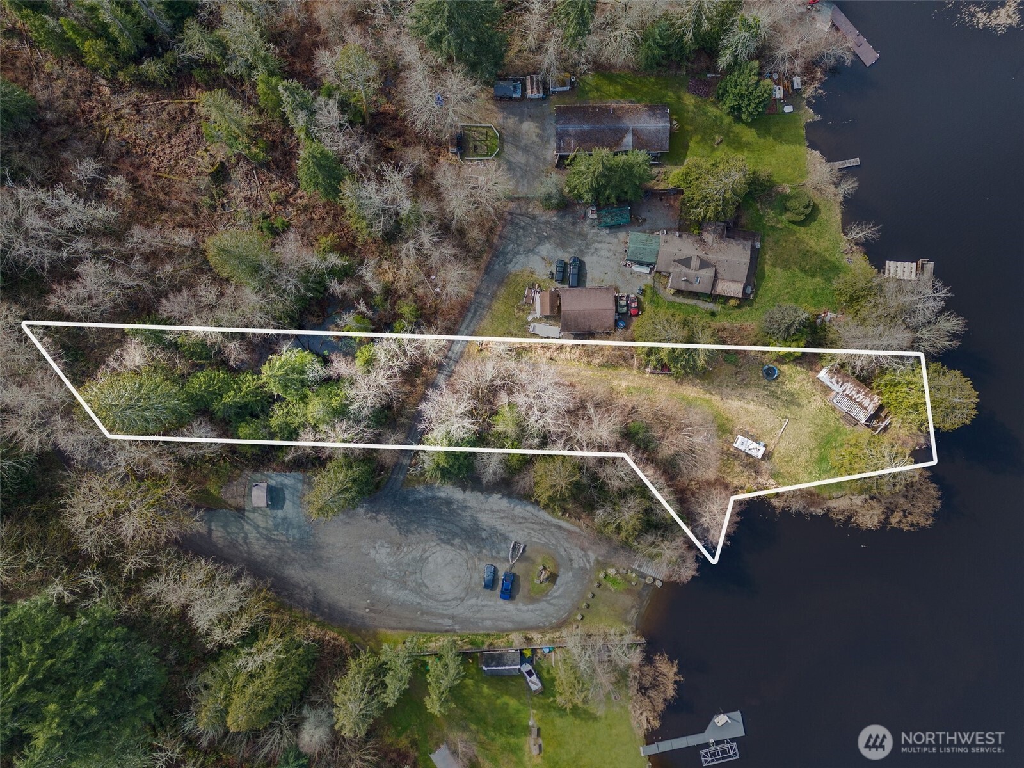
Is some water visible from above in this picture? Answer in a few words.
Yes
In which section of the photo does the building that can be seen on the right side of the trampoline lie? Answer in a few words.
right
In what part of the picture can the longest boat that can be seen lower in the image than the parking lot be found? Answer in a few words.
bottom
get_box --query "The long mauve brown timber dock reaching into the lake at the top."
[830,5,880,67]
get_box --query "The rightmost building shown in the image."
[817,362,891,432]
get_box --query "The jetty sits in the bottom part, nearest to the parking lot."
[640,708,745,756]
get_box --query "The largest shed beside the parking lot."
[479,647,520,676]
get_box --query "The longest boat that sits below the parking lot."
[524,665,545,695]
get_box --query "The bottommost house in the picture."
[429,739,467,768]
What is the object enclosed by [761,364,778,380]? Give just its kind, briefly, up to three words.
trampoline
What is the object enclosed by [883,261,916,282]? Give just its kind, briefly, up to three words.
pier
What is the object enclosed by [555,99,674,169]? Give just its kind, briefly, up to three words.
house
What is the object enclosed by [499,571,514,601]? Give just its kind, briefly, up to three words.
vehicle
